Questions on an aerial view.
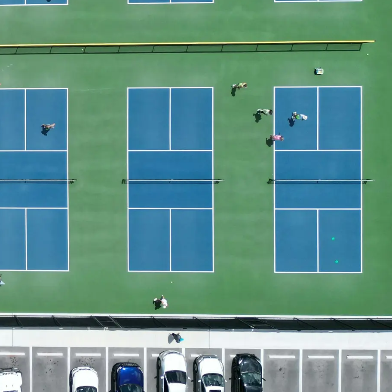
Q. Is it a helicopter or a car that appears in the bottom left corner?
car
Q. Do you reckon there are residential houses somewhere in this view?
No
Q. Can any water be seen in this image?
No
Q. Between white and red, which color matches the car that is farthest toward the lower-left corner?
white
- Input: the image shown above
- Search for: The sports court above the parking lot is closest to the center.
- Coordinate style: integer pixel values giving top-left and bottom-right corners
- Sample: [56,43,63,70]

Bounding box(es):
[128,87,214,272]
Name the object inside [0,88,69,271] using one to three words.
sports court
